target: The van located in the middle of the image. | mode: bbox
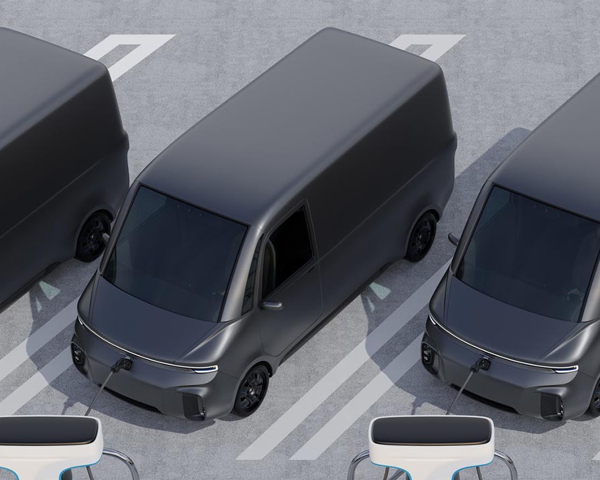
[66,29,456,426]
